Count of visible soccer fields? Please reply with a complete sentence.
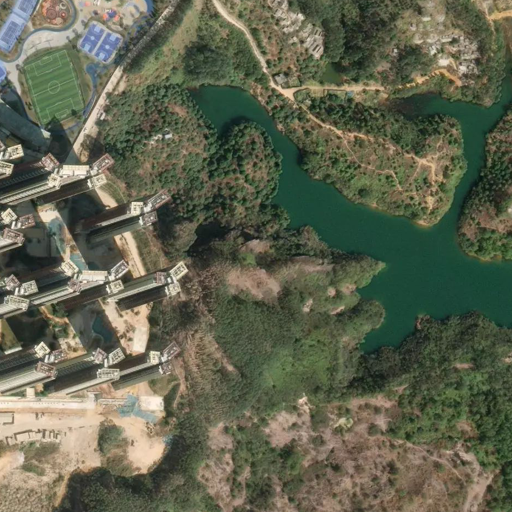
The picture shows 1 soccer field.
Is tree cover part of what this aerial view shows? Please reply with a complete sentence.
Yes, tree cover can be seen from above here.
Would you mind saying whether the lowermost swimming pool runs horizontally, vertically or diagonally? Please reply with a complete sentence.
From this overhead view, the lowermost swimming pool appears to run diagonally.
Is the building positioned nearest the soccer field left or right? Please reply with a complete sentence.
The building positioned nearest the soccer field sits on the left side.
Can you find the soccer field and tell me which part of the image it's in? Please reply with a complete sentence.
The soccer field sits in the top left section of the image.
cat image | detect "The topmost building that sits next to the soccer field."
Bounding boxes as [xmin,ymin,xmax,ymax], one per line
[0,100,50,158]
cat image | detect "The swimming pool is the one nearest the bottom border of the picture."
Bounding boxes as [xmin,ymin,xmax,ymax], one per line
[92,314,113,344]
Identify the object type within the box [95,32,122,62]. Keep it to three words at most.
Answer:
basketball court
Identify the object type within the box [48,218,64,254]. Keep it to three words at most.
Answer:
swimming pool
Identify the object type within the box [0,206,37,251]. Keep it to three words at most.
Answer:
building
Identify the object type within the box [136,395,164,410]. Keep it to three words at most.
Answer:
building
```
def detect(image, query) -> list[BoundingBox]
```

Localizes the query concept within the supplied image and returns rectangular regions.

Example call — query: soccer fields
[22,46,86,128]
